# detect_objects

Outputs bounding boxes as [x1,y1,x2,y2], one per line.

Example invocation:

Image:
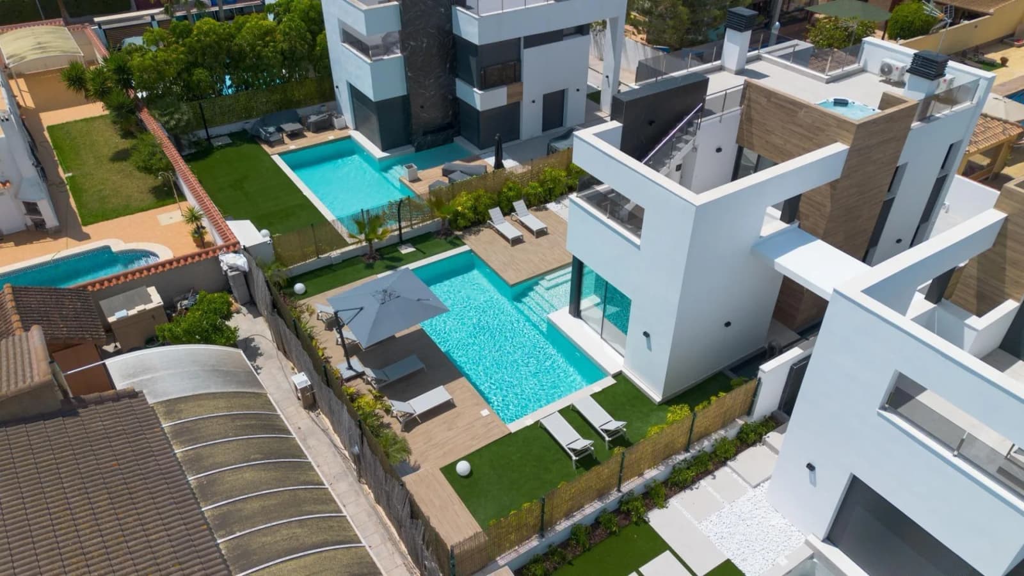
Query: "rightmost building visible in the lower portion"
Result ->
[759,173,1024,576]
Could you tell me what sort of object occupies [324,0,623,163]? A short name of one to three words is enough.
house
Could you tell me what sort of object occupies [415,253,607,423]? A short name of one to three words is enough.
swimming pool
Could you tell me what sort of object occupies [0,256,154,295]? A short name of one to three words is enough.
swimming pool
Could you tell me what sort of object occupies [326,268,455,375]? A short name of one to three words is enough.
umbrella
